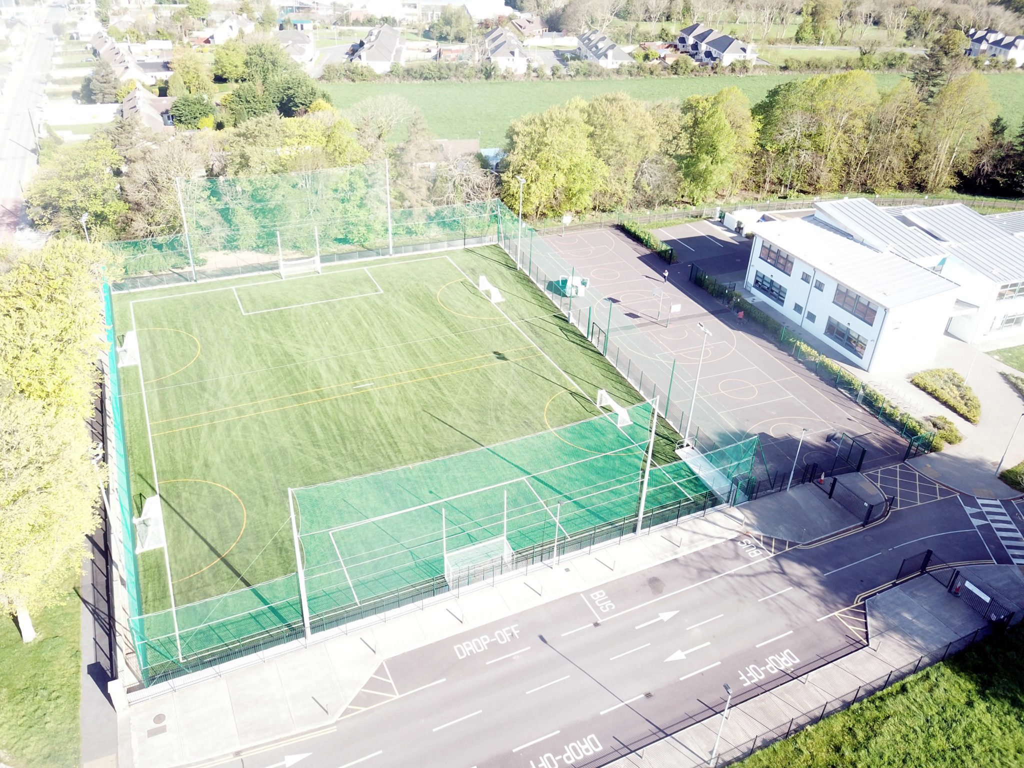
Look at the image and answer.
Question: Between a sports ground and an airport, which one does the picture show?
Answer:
sports ground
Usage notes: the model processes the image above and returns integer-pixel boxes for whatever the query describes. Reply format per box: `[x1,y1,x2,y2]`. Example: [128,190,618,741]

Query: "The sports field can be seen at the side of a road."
[108,244,732,689]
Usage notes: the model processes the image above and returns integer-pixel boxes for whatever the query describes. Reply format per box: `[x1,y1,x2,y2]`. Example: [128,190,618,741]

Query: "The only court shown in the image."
[499,220,905,497]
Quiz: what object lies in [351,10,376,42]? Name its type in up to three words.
building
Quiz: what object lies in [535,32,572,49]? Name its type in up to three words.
house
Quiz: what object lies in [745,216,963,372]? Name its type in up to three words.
building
